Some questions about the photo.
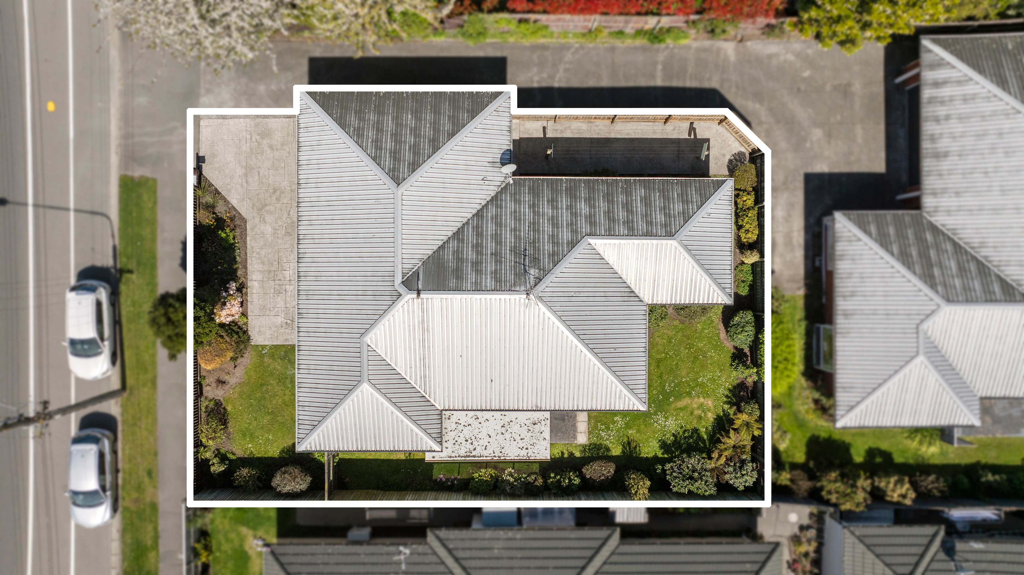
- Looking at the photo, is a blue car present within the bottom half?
No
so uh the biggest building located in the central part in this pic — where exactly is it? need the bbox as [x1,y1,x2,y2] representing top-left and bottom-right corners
[293,84,737,455]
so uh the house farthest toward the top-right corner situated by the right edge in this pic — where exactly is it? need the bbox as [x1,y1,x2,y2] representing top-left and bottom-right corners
[813,33,1024,430]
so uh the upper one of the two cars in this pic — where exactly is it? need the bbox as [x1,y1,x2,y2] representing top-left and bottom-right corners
[63,280,119,379]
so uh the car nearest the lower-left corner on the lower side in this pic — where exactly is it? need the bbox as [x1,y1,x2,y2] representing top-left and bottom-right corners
[66,427,121,525]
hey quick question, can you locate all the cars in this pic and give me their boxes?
[66,427,121,525]
[63,280,119,379]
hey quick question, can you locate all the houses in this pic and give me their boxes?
[813,33,1024,430]
[262,519,786,575]
[817,508,1024,575]
[293,84,737,455]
